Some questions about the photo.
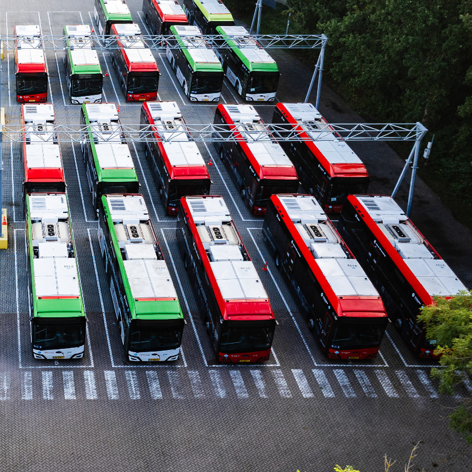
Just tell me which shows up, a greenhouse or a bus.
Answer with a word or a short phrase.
bus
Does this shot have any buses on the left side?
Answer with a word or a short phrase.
Yes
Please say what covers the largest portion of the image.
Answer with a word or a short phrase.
paved ground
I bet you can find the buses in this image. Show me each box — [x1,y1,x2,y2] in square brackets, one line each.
[273,104,375,214]
[14,26,50,101]
[140,104,215,214]
[164,25,226,100]
[262,196,394,358]
[26,196,89,358]
[18,104,67,214]
[173,196,280,359]
[340,196,472,358]
[145,0,191,49]
[110,25,161,100]
[184,0,237,49]
[213,104,301,214]
[60,26,105,101]
[80,104,142,214]
[96,0,136,49]
[101,198,188,359]
[214,25,282,100]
